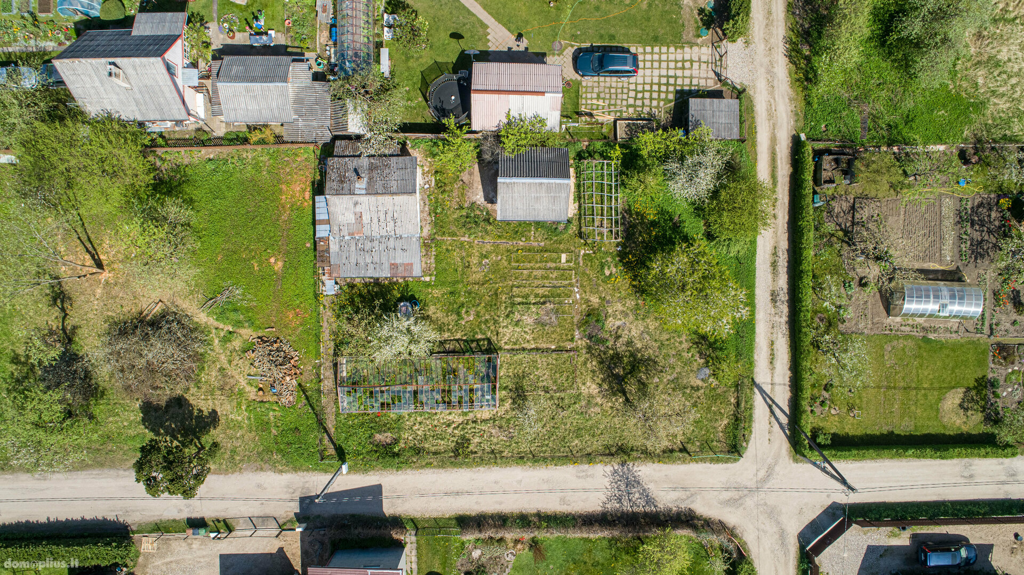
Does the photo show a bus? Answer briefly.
No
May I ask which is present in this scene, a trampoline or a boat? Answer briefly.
trampoline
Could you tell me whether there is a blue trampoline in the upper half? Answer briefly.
No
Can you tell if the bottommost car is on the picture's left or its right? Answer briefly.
right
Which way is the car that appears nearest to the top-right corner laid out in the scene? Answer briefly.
from side to side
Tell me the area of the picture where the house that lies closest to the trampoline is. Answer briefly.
top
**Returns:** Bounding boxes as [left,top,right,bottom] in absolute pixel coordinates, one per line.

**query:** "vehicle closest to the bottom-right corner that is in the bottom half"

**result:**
[916,541,974,573]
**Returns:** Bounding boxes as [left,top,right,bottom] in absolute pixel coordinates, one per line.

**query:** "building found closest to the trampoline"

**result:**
[471,61,563,136]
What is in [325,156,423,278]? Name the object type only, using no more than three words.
house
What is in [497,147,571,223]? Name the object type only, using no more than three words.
shed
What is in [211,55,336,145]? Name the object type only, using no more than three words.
shed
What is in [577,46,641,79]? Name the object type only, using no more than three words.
car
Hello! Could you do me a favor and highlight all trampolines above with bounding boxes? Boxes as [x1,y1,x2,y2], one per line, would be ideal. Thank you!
[424,65,471,119]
